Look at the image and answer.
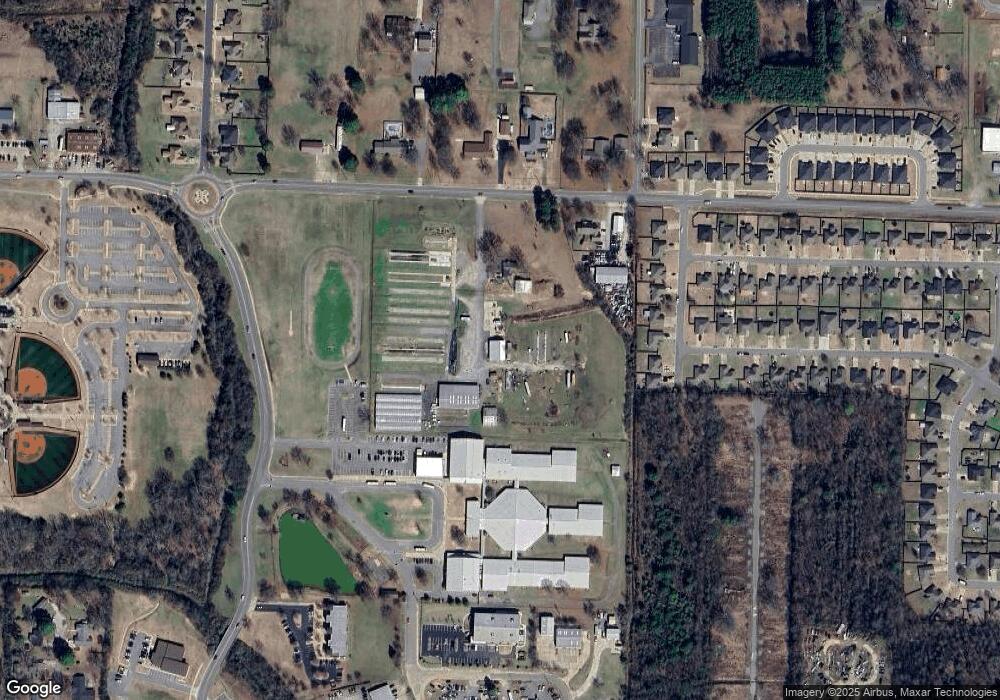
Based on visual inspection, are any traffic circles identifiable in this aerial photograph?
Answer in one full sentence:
Yes, this view includes a traffic circle.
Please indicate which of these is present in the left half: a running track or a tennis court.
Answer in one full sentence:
There is a running track in the left half.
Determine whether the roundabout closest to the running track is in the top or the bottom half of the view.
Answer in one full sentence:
Seen from above, the roundabout closest to the running track lies in the top half of the view.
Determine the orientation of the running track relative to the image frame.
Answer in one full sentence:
I'd say the running track is aligned from top to bottom in the picture.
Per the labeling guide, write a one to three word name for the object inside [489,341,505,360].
barn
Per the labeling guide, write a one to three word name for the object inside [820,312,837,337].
house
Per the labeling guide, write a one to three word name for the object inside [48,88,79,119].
building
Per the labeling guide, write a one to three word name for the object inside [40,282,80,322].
roundabout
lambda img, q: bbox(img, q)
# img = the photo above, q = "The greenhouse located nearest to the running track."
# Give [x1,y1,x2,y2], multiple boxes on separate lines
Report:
[376,394,421,431]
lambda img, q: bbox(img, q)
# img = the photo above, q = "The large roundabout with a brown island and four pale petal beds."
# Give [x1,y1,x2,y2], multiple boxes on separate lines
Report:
[168,160,237,238]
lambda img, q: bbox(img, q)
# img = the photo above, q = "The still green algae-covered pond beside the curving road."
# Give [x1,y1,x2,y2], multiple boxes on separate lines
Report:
[278,511,356,593]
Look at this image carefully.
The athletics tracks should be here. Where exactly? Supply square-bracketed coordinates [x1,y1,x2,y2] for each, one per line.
[302,252,361,370]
